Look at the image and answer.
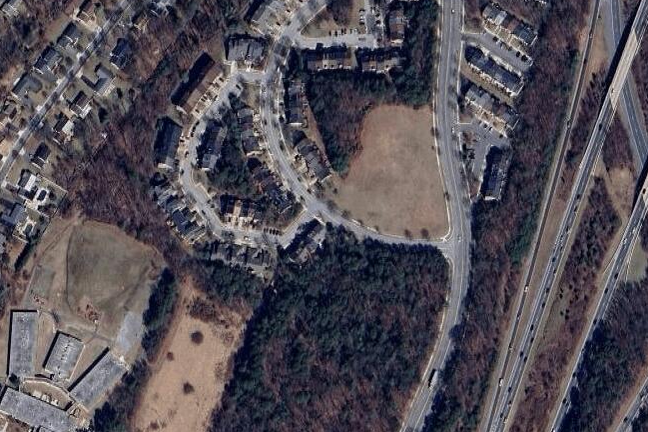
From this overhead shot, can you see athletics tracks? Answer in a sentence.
No, the scene contains no athletics track.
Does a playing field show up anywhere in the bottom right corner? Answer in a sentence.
No, there's no playing field to be seen in the bottom right corner.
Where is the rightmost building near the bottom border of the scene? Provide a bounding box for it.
[69,351,128,411]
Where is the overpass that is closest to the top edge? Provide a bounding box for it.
[607,28,642,111]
